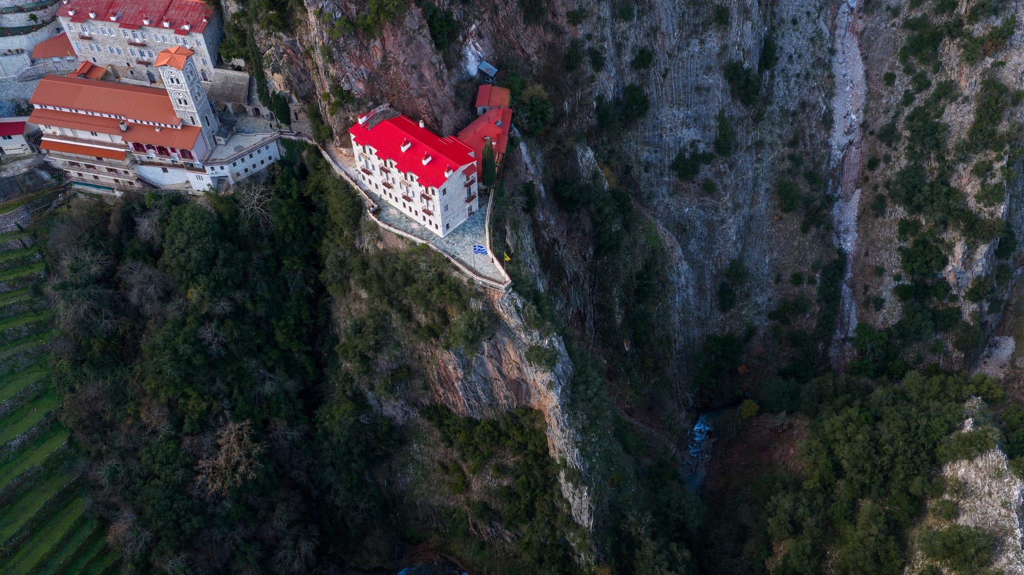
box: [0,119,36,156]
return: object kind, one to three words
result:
house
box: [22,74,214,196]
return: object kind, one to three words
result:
church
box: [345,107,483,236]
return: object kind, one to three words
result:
building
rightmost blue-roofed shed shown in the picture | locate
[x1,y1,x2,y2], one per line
[478,60,498,84]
